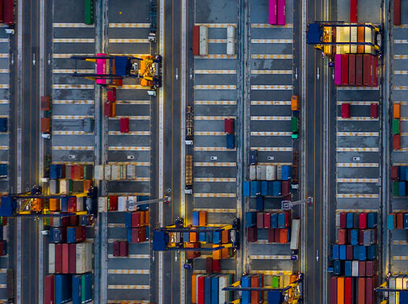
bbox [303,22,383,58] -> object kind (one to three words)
container crane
